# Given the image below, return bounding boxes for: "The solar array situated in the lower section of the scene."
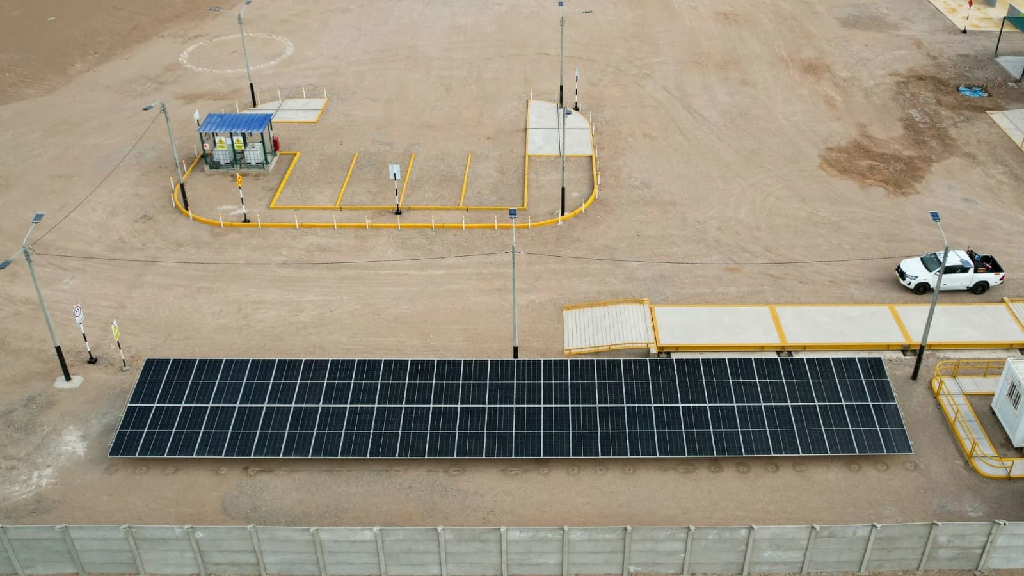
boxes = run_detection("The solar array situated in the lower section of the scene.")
[110,358,913,457]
